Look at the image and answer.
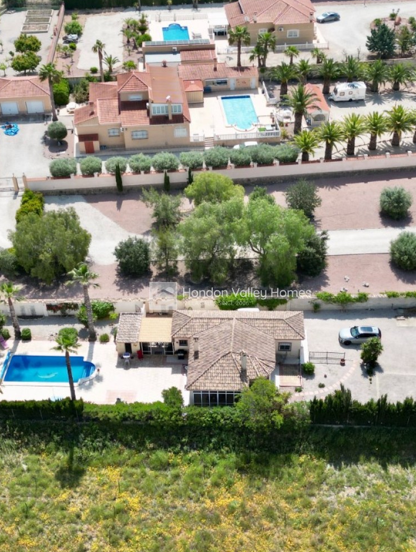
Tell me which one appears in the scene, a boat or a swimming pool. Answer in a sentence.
This aerial view contains a swimming pool.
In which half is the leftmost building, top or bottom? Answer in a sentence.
You can find the leftmost building in the top half.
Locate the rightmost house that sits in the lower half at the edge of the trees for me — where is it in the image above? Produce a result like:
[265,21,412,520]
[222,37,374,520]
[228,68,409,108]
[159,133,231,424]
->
[171,310,305,406]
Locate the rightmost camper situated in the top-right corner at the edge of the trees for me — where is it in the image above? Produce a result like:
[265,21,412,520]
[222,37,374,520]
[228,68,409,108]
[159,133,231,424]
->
[330,80,372,103]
